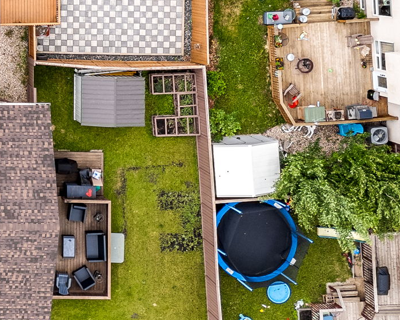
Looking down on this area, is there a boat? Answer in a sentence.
No, I find no boat anywhere in the image.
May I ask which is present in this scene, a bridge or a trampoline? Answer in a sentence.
The image shows a trampoline.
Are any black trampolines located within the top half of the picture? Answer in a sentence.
No, there's no black trampoline to be seen within the top half of the picture.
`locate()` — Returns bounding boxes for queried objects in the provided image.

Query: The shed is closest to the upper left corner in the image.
[71,72,145,128]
